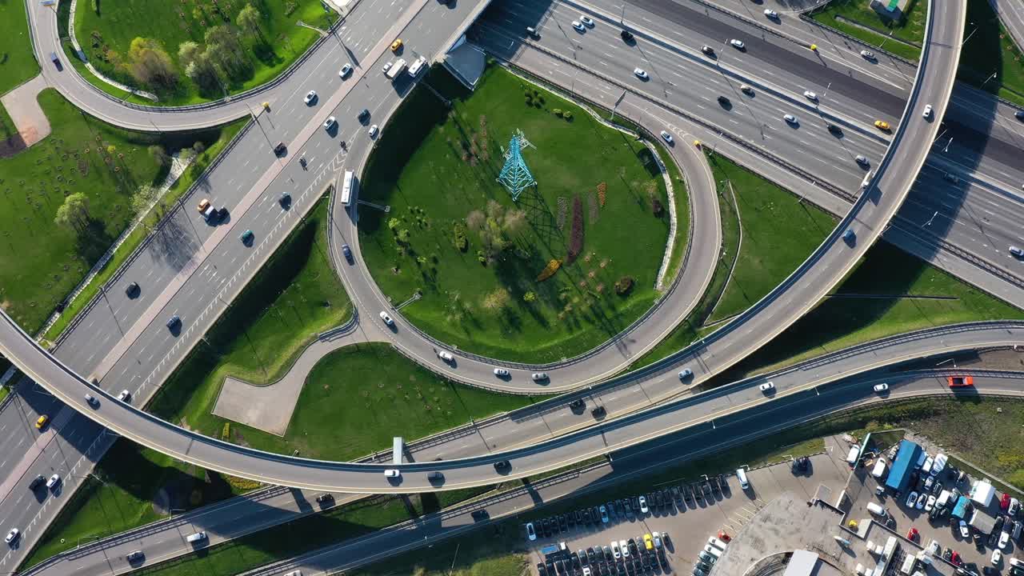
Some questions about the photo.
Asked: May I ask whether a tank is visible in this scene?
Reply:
No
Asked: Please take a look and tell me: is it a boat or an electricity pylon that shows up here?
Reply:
electricity pylon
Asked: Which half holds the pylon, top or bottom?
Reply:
top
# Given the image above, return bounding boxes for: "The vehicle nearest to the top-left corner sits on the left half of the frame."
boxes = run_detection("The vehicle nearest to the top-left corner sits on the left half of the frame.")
[50,55,63,69]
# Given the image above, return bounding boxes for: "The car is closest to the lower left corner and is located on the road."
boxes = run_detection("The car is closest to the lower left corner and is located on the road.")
[2,526,22,547]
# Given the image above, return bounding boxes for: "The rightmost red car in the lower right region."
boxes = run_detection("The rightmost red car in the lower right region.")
[999,491,1012,511]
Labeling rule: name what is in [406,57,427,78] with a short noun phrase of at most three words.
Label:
vehicle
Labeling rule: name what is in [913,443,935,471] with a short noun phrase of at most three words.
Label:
truck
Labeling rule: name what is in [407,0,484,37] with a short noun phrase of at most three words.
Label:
bridge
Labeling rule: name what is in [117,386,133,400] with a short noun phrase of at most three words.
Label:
car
